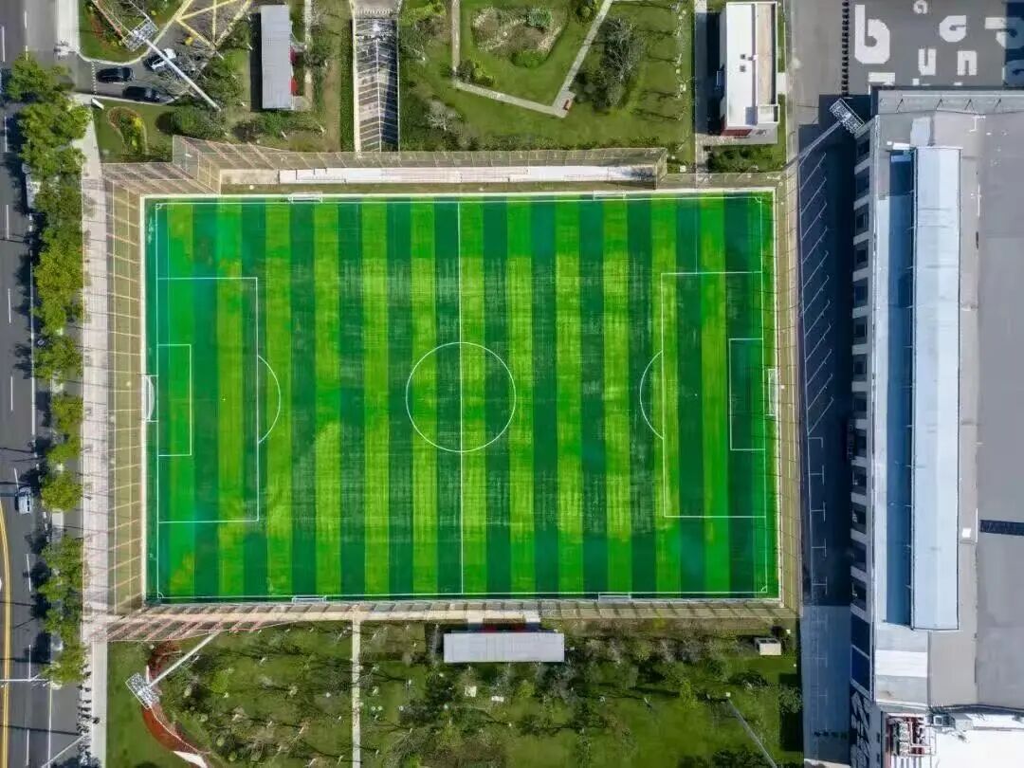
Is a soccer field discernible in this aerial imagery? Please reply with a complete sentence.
Yes, I can see a soccer field in this picture.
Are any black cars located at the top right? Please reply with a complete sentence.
No, there's no black car to be seen at the top right.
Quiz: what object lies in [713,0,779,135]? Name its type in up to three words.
building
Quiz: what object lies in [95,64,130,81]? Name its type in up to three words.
car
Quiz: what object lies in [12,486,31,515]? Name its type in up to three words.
car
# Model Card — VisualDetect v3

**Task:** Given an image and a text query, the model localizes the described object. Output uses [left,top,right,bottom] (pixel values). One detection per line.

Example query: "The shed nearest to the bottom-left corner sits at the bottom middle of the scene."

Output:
[444,627,564,662]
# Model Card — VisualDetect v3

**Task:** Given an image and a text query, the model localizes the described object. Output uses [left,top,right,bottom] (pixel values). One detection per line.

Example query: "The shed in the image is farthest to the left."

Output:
[260,6,296,115]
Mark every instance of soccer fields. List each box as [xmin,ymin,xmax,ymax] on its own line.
[140,187,782,607]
